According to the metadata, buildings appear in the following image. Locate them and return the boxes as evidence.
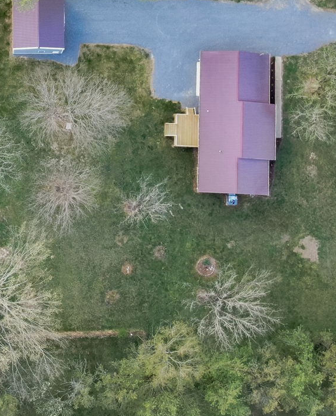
[164,49,277,193]
[12,0,64,53]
